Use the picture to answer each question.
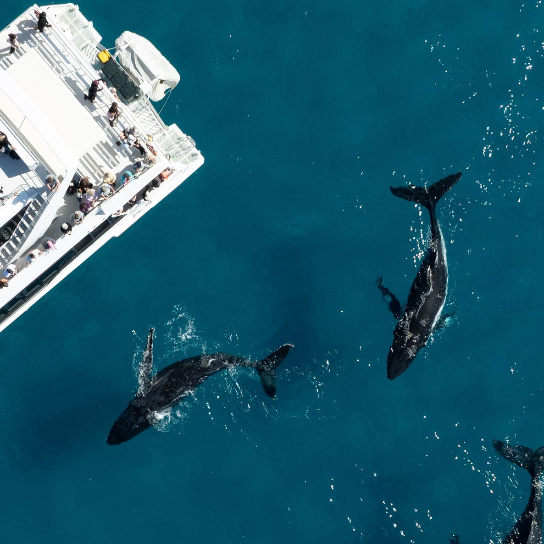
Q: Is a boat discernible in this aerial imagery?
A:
Yes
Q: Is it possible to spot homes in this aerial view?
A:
No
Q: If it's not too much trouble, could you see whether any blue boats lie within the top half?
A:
No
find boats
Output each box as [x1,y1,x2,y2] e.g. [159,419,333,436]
[118,29,178,103]
[0,8,202,337]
